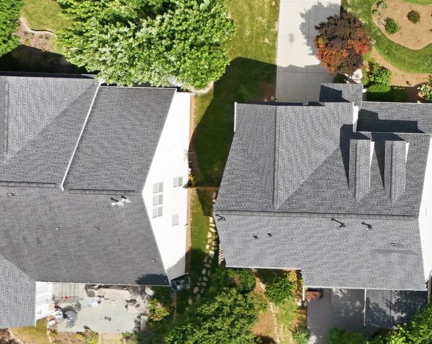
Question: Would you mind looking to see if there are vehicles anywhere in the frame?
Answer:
No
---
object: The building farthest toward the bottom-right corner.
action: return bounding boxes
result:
[211,83,432,344]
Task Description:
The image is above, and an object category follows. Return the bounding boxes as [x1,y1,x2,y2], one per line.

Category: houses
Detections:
[211,83,432,344]
[0,71,186,328]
